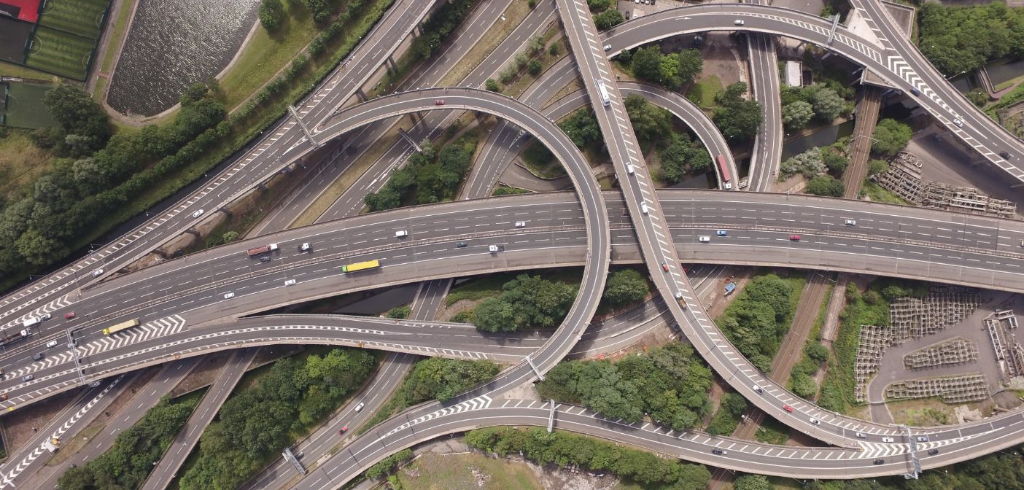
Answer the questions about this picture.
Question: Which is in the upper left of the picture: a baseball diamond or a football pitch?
football pitch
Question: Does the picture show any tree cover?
Yes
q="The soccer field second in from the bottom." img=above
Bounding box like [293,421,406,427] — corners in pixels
[21,24,96,80]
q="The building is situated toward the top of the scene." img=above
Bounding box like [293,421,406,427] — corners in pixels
[784,61,803,88]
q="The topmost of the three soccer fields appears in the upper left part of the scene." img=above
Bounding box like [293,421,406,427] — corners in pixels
[33,0,111,39]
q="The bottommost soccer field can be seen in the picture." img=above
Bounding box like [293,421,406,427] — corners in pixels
[0,81,64,126]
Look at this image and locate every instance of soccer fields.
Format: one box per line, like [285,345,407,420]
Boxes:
[21,24,96,80]
[33,0,111,39]
[0,81,64,126]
